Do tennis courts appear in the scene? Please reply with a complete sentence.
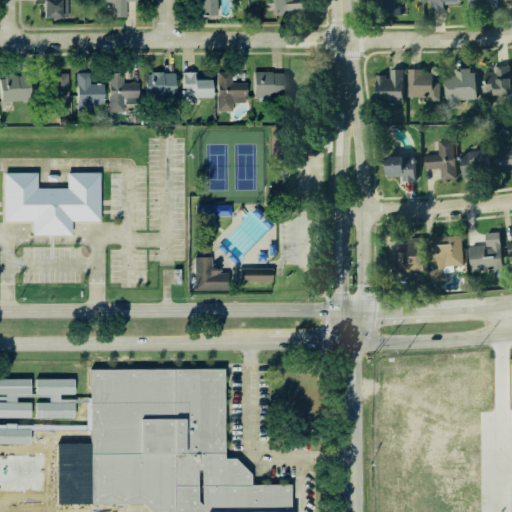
Yes, there's a tennis court down there.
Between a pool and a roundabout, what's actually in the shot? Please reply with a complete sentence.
Visible in the photo is a pool.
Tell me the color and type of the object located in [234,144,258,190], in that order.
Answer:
blue tennis court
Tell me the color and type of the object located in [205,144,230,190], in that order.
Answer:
blue tennis court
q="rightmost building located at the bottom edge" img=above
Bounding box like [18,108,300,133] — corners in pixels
[91,368,294,512]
